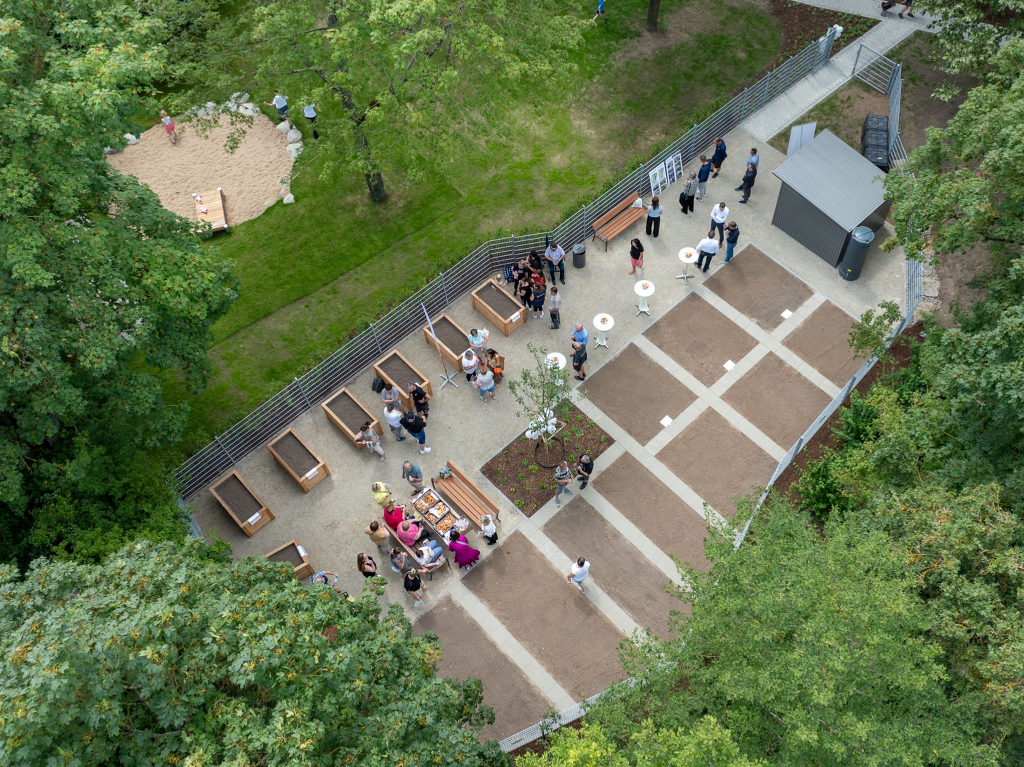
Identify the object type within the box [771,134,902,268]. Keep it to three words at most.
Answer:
shed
